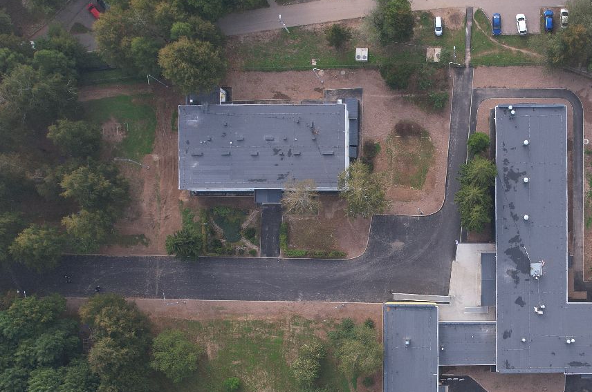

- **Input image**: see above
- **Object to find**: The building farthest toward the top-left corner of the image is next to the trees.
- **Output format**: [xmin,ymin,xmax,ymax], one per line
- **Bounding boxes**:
[178,86,360,204]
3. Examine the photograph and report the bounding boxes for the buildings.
[481,105,592,378]
[383,302,448,392]
[178,86,360,204]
